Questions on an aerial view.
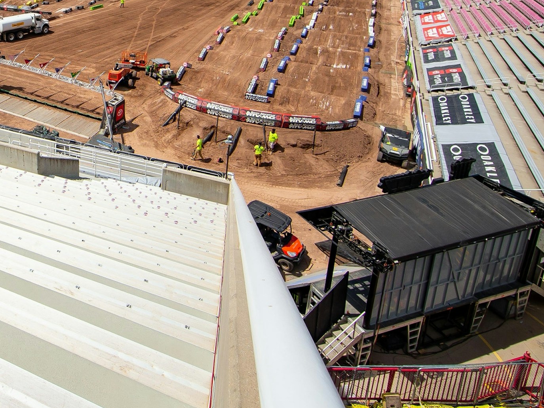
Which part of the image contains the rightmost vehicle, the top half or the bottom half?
top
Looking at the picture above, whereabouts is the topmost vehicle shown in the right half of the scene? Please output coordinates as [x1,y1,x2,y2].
[375,104,416,158]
